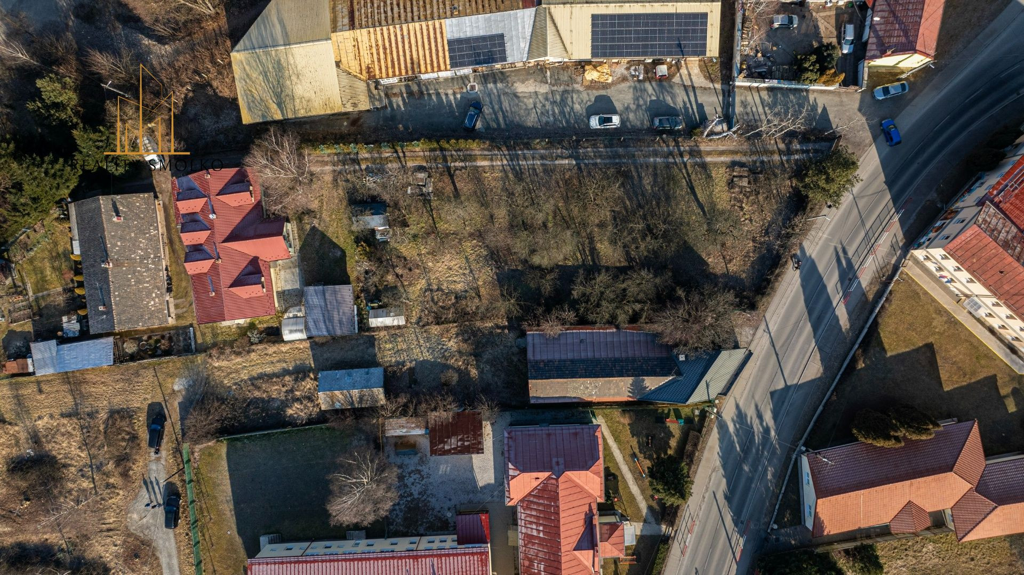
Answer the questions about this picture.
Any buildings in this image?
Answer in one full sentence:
Yes, I can see a building in this picture.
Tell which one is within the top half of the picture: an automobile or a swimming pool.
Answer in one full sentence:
The feature located within the top half of the picture is an automobile.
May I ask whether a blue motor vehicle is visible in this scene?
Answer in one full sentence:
Yes, the image includes a blue motor vehicle.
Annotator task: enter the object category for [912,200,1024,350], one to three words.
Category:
building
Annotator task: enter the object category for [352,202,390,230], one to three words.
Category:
shed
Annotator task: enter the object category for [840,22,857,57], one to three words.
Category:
car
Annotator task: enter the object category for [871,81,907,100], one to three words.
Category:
car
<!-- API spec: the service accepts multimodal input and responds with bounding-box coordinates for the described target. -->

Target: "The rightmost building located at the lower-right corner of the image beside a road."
[800,419,1024,543]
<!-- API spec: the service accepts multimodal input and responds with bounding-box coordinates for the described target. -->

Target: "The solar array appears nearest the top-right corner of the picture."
[592,13,708,57]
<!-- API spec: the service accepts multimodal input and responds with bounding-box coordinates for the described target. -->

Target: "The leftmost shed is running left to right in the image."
[2,358,34,375]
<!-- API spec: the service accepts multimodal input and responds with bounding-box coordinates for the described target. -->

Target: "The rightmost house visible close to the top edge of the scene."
[856,0,945,65]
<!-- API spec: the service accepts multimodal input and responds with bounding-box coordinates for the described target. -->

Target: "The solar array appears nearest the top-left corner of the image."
[448,33,506,68]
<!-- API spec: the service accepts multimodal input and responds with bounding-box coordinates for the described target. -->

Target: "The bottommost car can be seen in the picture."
[163,493,183,528]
